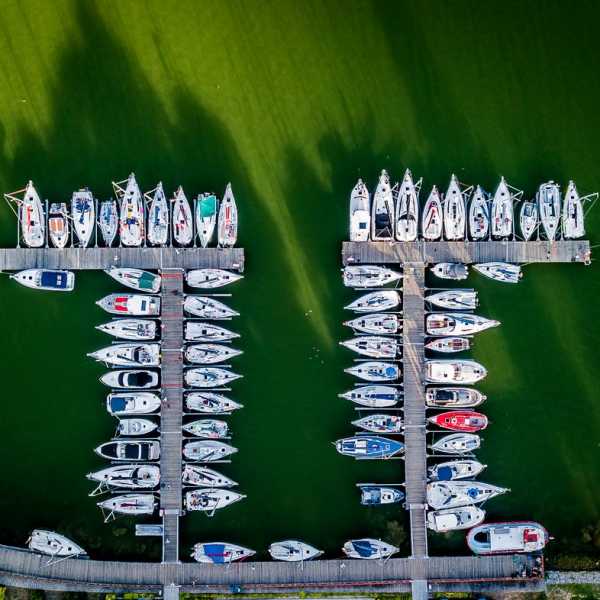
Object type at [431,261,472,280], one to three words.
boat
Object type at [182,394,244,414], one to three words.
boat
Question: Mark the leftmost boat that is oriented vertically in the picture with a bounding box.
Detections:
[7,179,46,252]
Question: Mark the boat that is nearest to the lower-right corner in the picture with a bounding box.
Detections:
[464,520,551,555]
